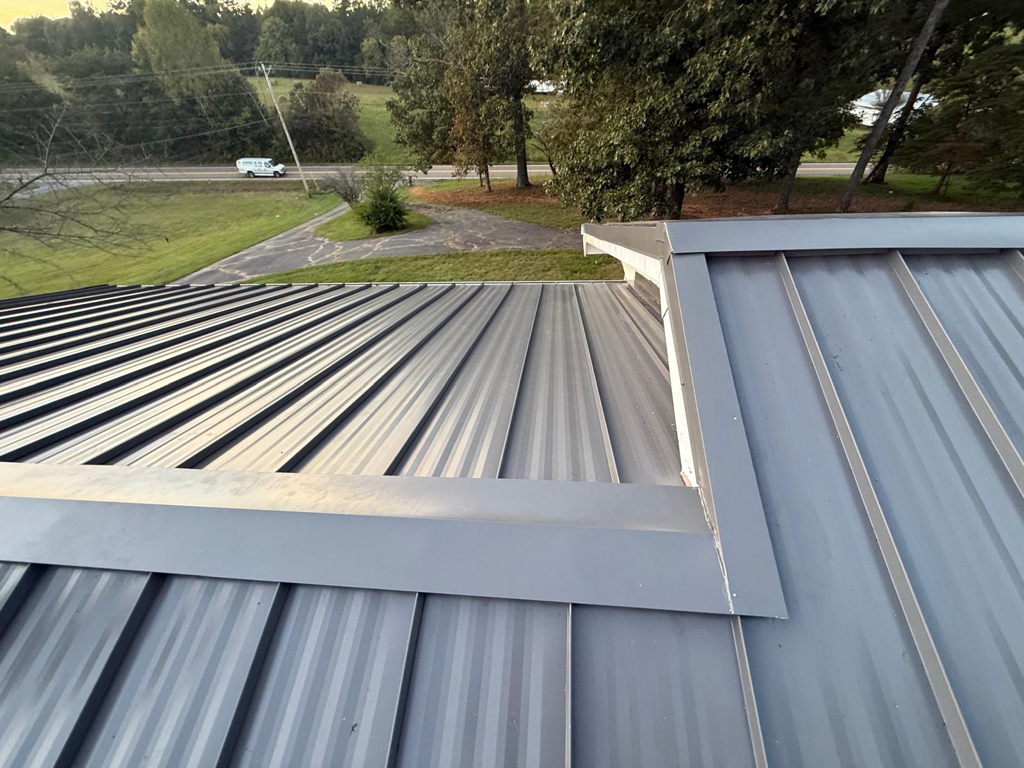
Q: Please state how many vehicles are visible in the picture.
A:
1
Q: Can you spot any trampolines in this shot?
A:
No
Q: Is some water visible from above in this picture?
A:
No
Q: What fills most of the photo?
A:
buildings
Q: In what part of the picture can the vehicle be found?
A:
top left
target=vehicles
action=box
[236,158,289,178]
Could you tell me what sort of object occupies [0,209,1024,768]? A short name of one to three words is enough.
house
